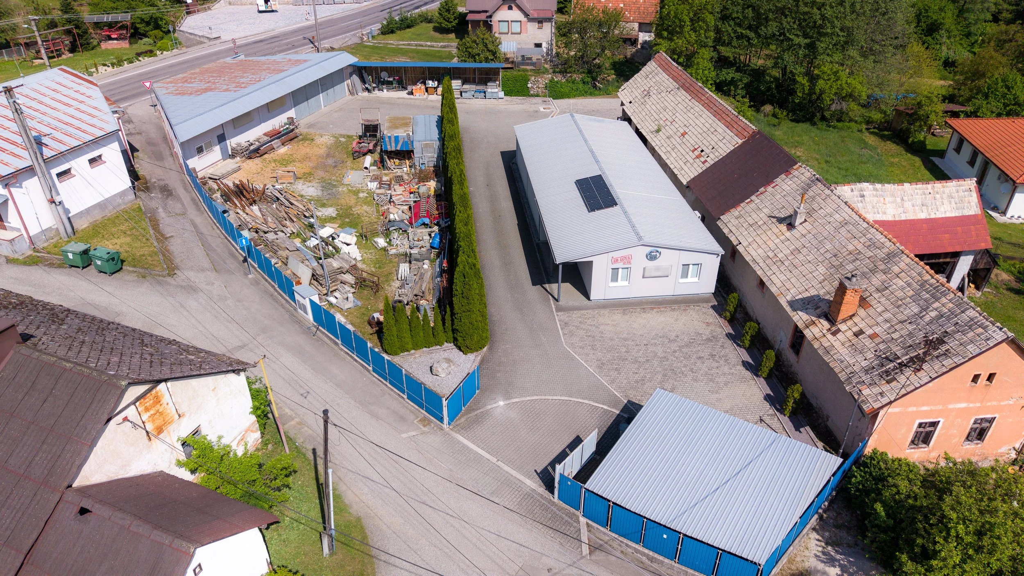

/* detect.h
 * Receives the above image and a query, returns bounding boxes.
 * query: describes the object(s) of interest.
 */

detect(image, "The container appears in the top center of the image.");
[414,110,441,164]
